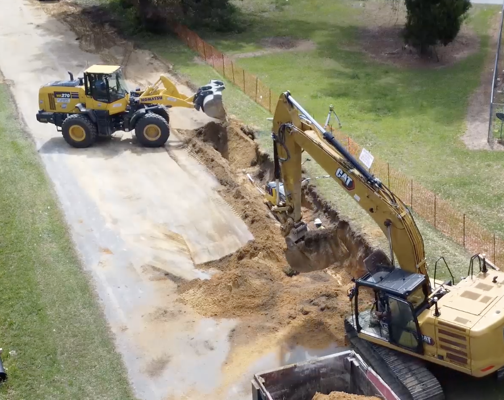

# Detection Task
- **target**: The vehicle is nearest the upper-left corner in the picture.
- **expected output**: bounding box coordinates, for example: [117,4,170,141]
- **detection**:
[37,59,236,148]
